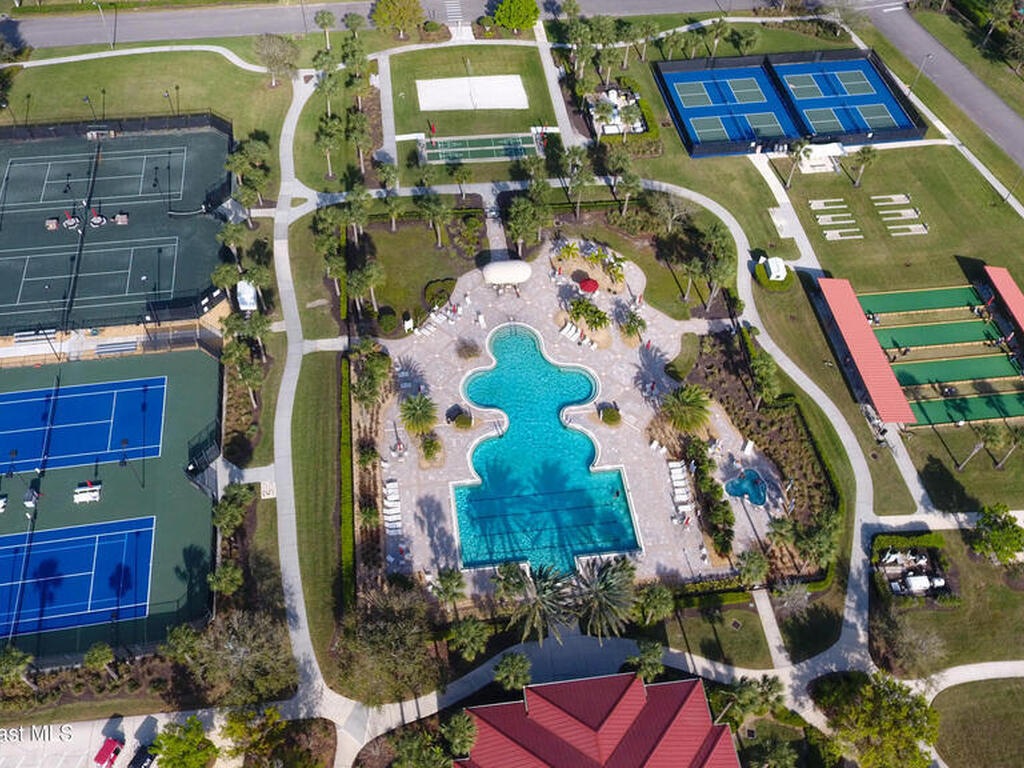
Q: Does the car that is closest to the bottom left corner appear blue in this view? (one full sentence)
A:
No, the car that is closest to the bottom left corner is actually red.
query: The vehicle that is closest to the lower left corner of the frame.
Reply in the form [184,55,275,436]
[91,740,127,768]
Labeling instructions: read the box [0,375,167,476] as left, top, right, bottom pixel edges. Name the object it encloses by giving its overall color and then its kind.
blue tennis court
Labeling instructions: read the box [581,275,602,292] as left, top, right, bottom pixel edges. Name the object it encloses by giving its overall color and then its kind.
red umbrella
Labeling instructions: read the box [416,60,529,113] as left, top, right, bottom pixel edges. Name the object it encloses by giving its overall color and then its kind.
white sports court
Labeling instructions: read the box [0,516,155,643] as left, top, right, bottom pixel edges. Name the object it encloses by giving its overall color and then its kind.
blue tennis court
